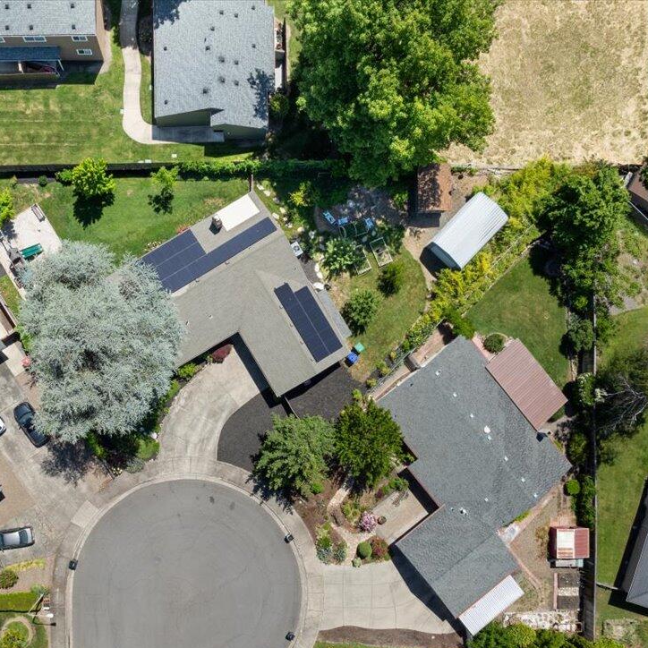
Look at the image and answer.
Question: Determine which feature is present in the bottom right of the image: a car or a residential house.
residential house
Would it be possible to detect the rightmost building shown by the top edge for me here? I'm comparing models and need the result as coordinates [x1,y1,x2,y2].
[153,0,276,147]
